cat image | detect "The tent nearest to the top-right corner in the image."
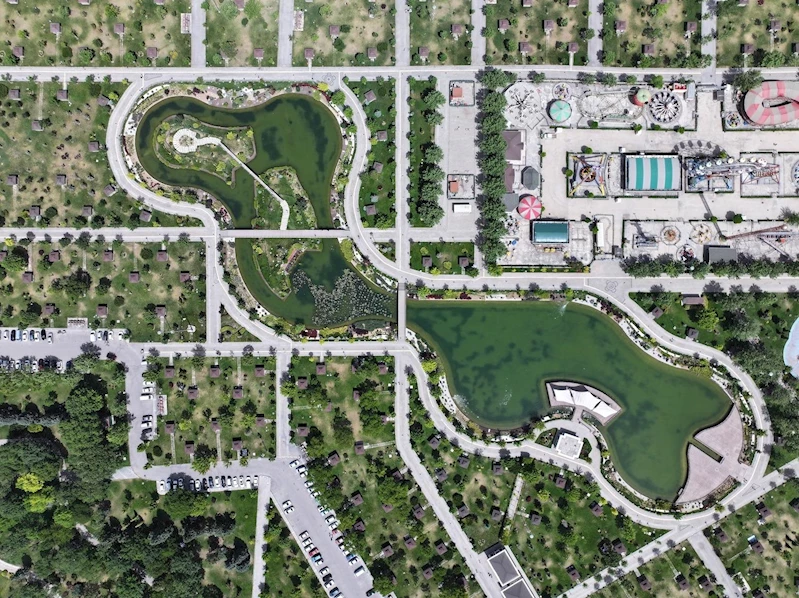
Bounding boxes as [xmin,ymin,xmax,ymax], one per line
[737,81,799,129]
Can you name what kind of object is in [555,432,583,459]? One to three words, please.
building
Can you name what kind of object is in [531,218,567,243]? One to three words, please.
building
